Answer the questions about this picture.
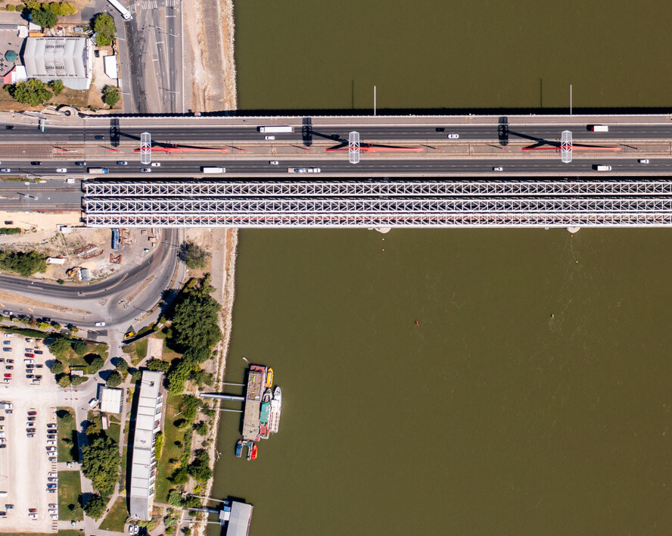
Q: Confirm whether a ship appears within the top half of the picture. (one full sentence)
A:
No, looking within the top half of the picture, there is no ship.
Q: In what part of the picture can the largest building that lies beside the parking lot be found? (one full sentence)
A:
Look in the bottom left portion of the view to spot the largest building that lies beside the parking lot.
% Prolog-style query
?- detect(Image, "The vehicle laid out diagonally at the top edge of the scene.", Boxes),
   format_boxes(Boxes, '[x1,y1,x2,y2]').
[106,0,133,20]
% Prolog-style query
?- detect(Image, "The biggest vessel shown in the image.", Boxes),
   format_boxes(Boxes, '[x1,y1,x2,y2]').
[241,364,267,441]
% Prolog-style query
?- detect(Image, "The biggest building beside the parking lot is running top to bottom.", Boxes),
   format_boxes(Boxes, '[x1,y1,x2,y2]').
[129,367,169,521]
